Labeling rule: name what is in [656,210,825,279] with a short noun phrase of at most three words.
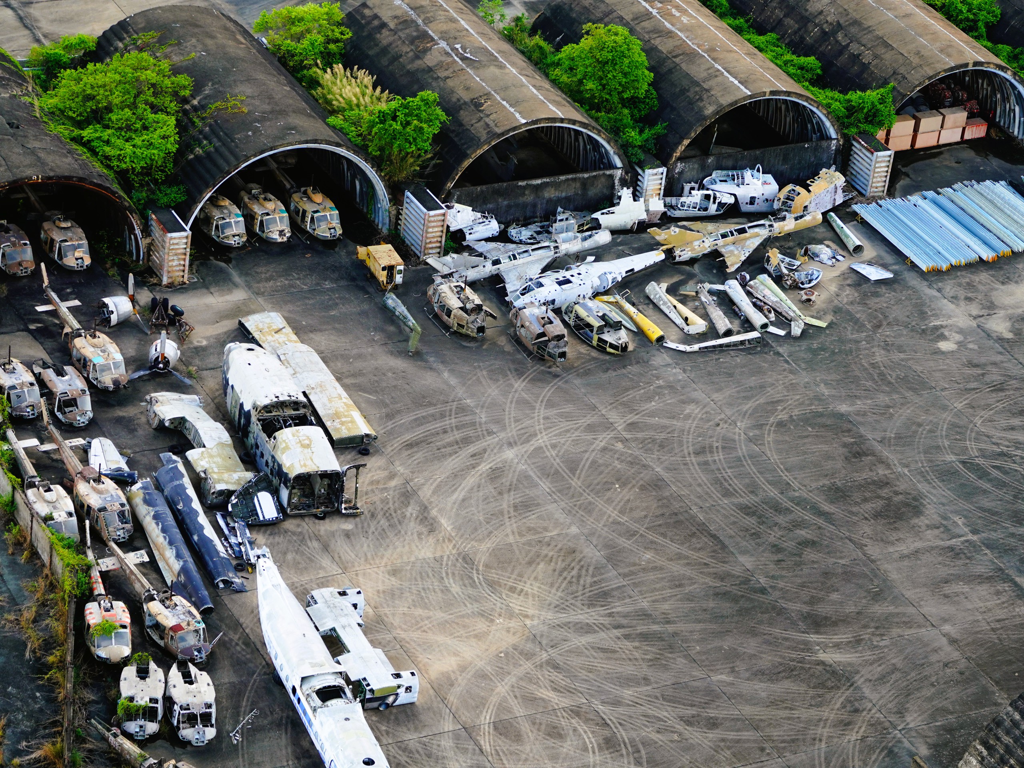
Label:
airplane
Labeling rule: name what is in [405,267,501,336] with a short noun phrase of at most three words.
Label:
helicopter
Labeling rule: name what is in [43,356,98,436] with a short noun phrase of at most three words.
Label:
helicopter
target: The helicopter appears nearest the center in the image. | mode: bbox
[493,298,570,367]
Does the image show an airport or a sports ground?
airport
